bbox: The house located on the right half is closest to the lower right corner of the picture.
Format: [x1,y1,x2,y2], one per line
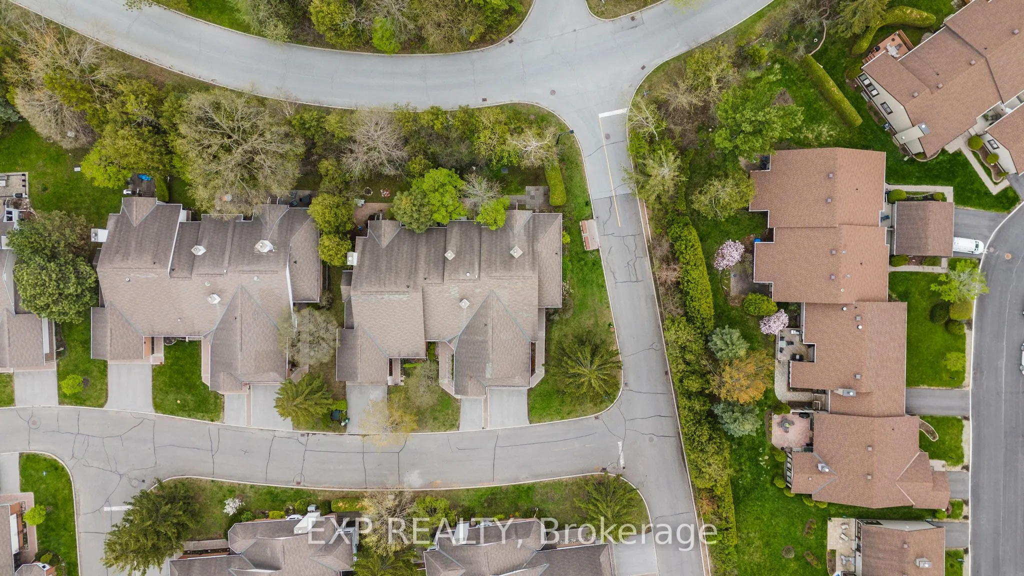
[854,519,946,576]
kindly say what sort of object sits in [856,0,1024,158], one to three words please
house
